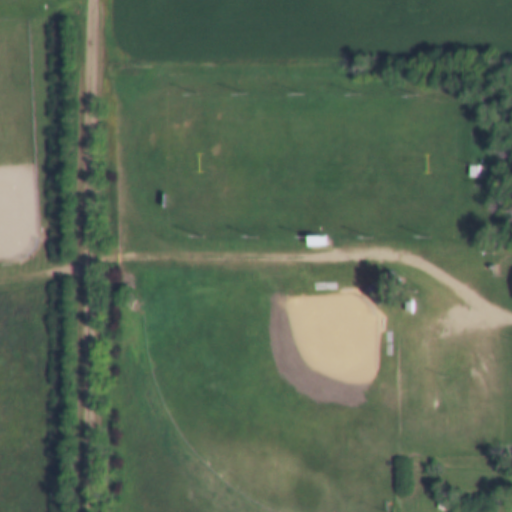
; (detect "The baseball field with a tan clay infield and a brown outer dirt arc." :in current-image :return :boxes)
[268,286,388,407]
